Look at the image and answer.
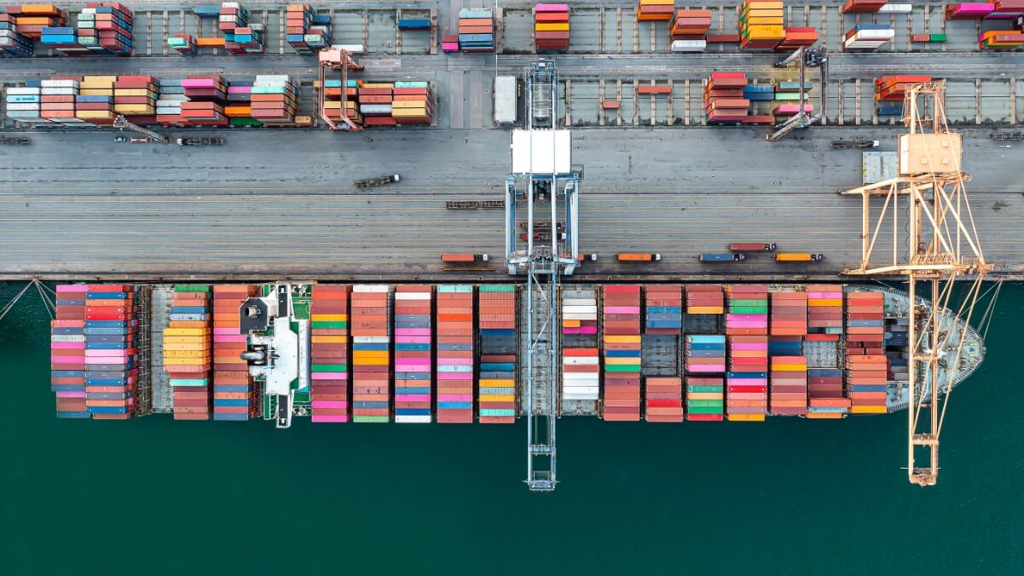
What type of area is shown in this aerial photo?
port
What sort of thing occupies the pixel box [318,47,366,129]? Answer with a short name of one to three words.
crane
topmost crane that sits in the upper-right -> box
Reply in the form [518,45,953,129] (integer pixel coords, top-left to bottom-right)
[770,46,829,129]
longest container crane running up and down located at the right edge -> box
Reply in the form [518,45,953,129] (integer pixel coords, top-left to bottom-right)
[828,83,992,483]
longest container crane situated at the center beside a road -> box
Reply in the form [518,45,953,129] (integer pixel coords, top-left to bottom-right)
[500,63,588,492]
